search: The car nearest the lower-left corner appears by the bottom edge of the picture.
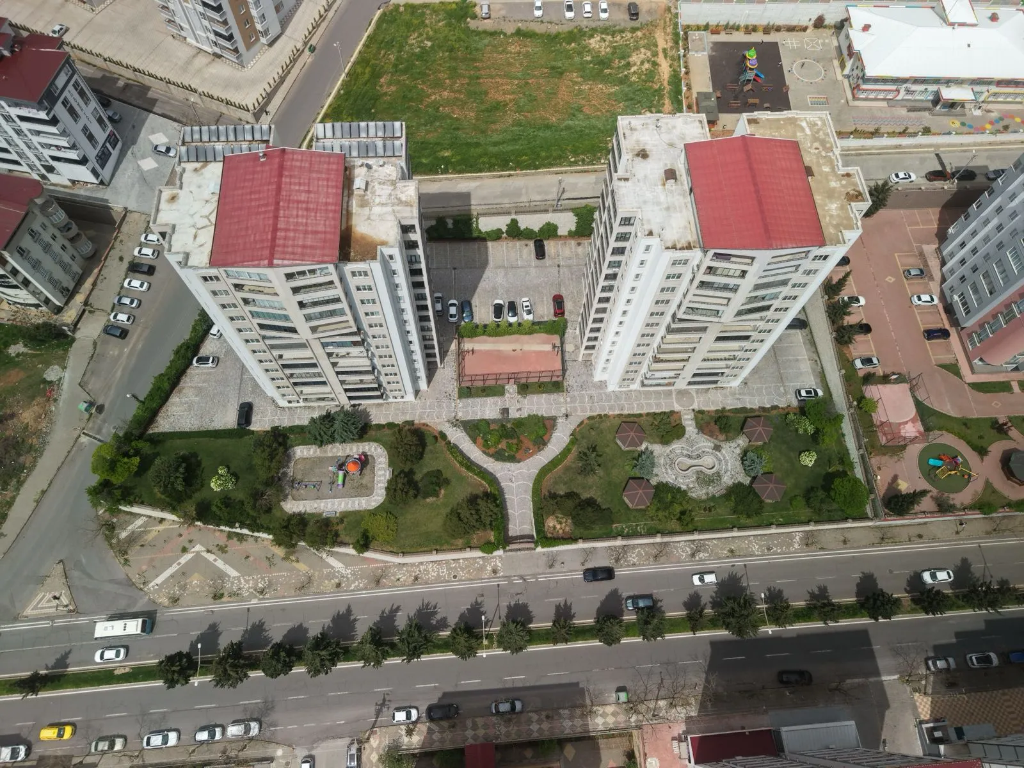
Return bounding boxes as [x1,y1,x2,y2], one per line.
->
[0,743,32,763]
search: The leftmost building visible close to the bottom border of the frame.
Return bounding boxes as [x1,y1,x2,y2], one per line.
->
[684,728,779,768]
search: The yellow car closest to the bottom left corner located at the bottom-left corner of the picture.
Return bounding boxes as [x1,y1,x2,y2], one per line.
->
[35,723,75,741]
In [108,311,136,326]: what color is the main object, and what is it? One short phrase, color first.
white car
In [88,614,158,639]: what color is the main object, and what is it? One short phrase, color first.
white bus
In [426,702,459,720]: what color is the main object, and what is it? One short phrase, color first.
black car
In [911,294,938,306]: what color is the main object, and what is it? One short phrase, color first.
white vehicle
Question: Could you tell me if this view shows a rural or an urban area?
urban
